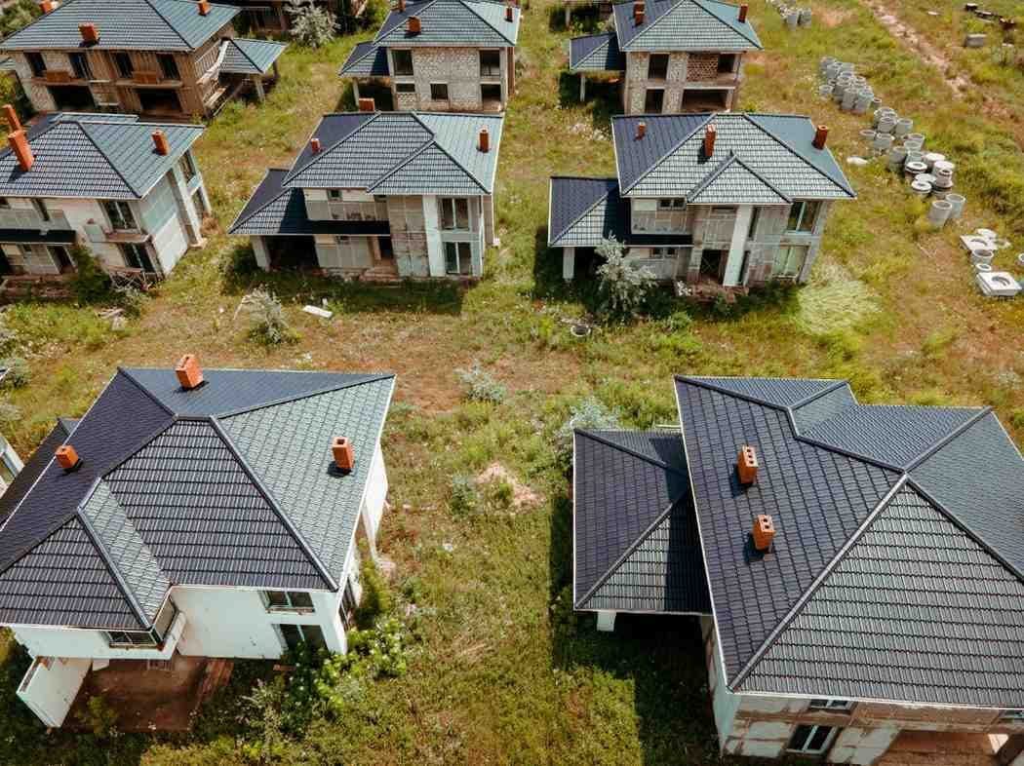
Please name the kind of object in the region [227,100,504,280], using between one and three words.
house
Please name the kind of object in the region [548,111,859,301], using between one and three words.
house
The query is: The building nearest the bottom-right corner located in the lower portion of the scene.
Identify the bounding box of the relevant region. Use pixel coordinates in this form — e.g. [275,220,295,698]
[571,376,1024,766]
